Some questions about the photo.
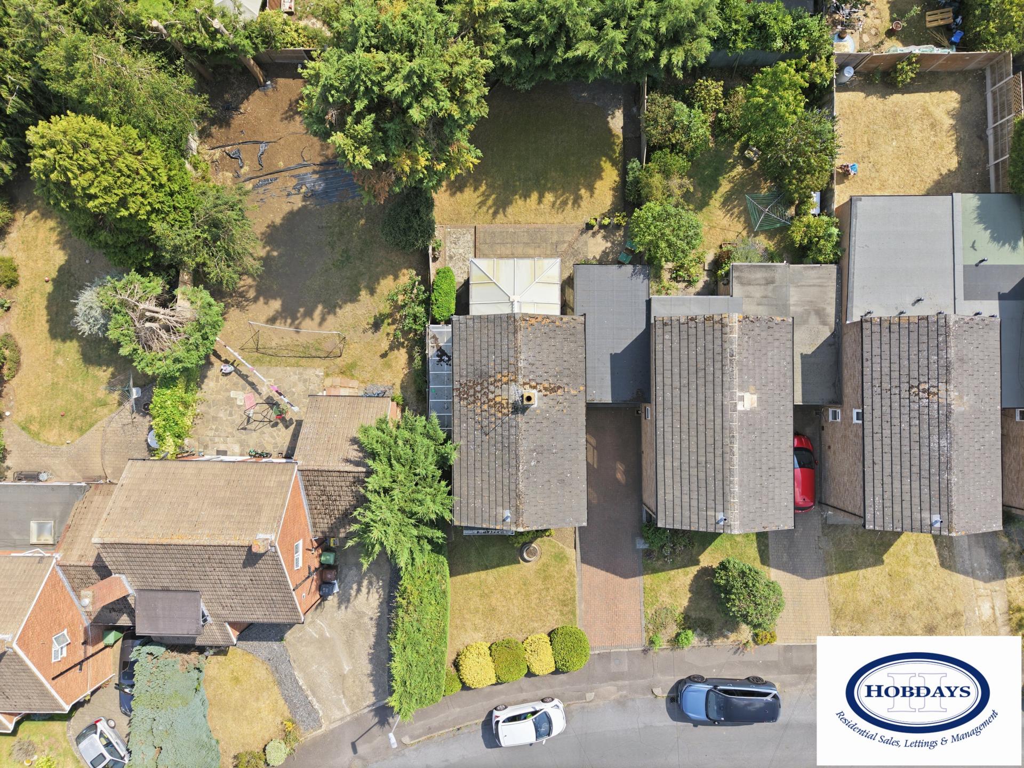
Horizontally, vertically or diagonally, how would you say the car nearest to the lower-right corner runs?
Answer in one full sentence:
In this picture, the car nearest to the lower-right corner lies horizontally.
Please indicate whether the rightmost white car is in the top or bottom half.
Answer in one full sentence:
The rightmost white car is in the bottom half of the image.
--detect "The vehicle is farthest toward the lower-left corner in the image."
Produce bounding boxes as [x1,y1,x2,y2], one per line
[76,712,132,768]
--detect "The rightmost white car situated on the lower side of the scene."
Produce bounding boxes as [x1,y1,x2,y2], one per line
[491,695,567,744]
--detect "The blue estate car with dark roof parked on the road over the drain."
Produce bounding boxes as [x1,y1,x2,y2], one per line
[672,673,776,724]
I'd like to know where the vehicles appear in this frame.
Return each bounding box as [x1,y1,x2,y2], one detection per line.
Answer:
[795,432,820,514]
[108,627,150,720]
[672,673,776,724]
[76,712,132,768]
[491,695,567,744]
